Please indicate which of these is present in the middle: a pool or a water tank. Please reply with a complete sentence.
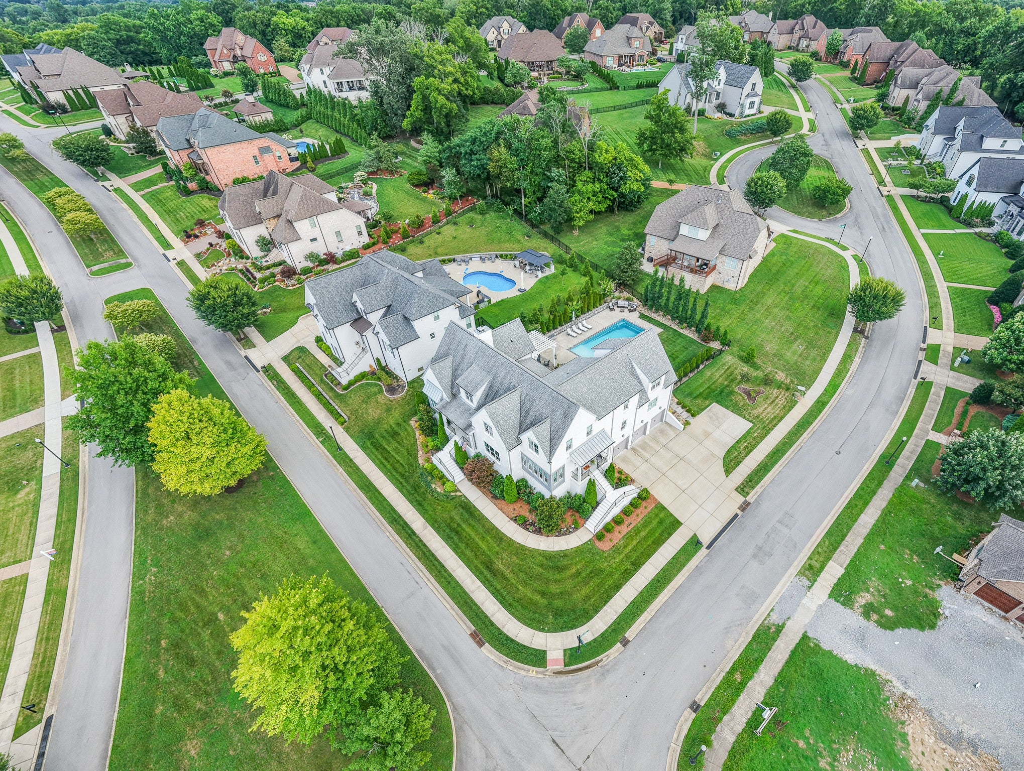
There is a pool in the middle.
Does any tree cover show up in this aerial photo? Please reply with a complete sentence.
Yes, there is tree cover in the image.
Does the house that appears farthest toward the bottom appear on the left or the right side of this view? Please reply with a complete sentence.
The house that appears farthest toward the bottom appears in the right half of the scene.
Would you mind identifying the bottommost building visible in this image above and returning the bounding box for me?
[950,517,1024,640]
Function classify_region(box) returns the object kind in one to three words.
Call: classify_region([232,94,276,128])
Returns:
building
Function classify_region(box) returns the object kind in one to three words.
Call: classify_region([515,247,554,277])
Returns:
gazebo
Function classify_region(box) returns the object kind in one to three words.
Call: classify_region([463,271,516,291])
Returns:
swimming pool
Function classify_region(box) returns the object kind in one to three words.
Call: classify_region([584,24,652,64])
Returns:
house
